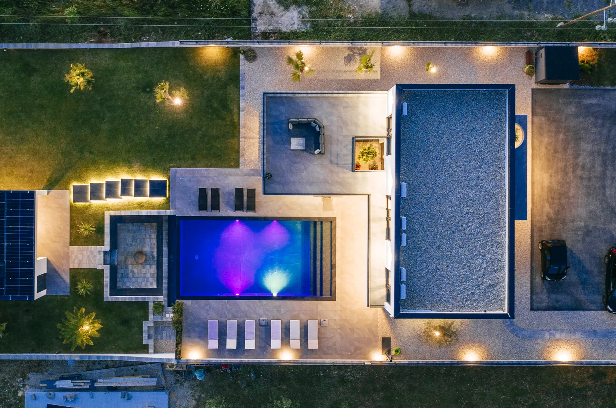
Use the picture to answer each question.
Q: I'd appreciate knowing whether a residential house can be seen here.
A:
Yes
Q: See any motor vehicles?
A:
Yes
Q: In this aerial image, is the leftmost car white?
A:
No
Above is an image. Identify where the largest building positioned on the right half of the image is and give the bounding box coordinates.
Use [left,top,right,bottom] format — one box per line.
[262,83,528,320]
